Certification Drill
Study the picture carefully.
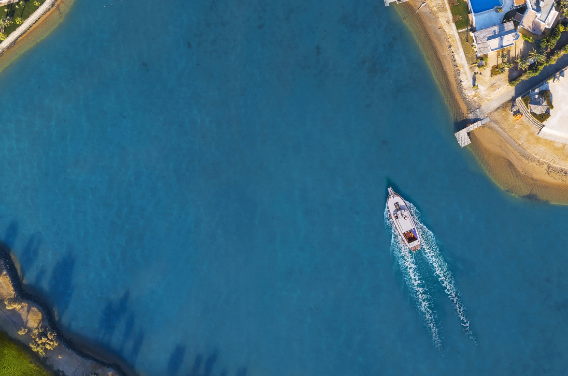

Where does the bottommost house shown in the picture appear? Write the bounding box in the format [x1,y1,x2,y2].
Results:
[473,21,520,56]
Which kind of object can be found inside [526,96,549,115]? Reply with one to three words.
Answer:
gazebo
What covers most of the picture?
water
